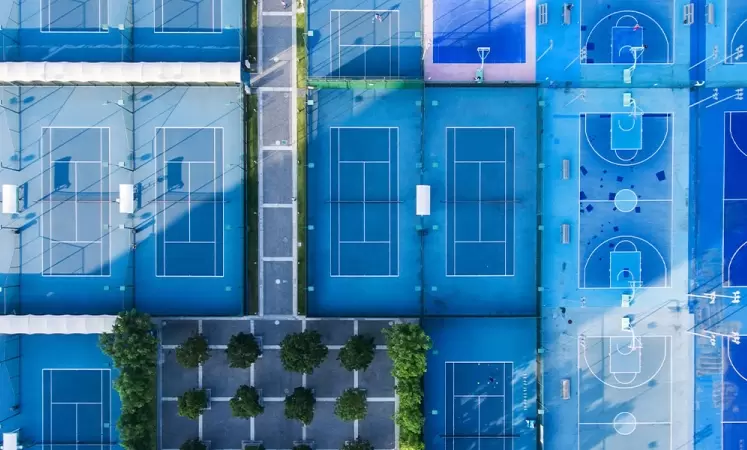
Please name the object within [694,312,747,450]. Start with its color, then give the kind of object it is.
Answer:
blue basketball court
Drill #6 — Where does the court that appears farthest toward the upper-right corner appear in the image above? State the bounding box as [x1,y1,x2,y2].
[690,0,747,88]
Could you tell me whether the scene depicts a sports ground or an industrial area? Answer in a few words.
sports ground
